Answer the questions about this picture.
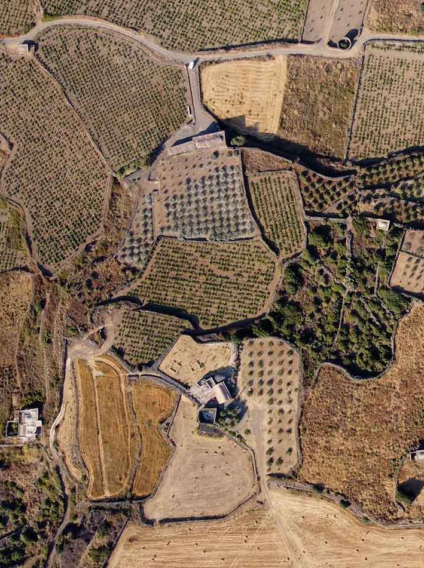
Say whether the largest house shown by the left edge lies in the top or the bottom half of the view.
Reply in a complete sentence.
The largest house shown by the left edge sits in the bottom half of the picture.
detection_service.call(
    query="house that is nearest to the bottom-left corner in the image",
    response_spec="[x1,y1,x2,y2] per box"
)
[17,408,45,438]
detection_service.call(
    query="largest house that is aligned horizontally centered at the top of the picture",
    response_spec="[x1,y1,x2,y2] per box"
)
[167,131,231,158]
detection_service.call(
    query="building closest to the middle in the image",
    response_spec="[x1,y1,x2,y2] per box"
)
[188,376,236,404]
